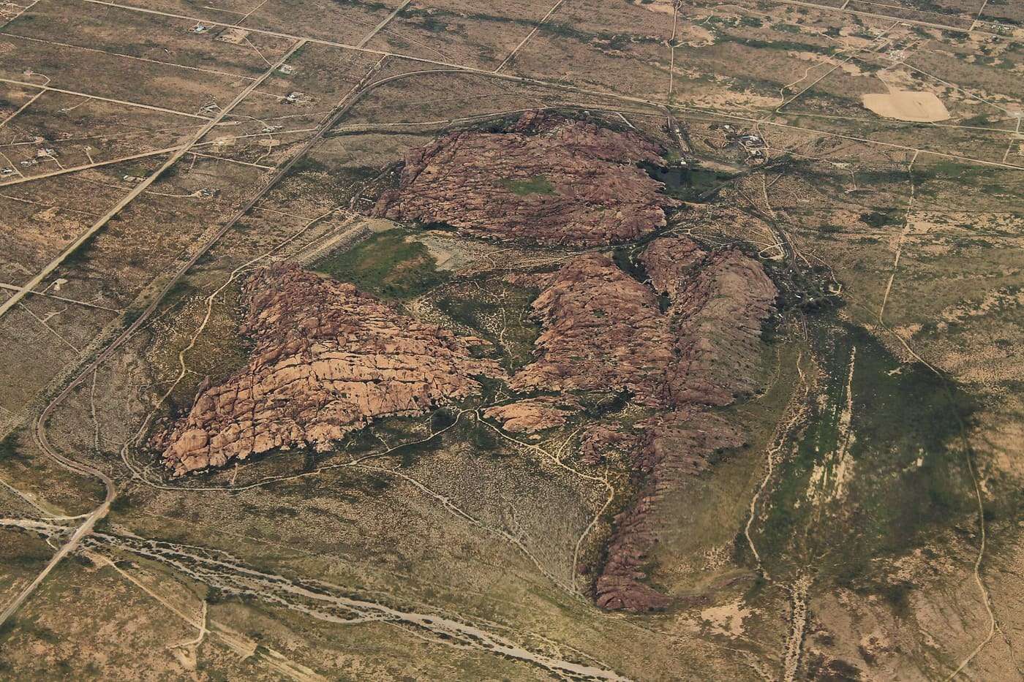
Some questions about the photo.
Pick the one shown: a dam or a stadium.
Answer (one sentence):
The one in the frame is a dam.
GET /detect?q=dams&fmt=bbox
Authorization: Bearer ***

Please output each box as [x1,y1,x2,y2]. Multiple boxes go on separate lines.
[289,215,377,268]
